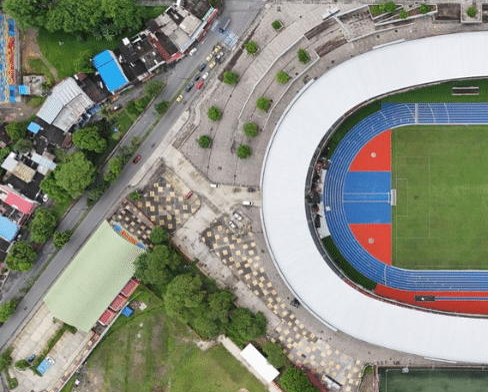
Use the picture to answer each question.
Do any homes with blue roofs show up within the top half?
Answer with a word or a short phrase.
Yes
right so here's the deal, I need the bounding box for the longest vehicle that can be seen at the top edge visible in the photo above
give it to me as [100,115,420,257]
[216,18,230,35]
